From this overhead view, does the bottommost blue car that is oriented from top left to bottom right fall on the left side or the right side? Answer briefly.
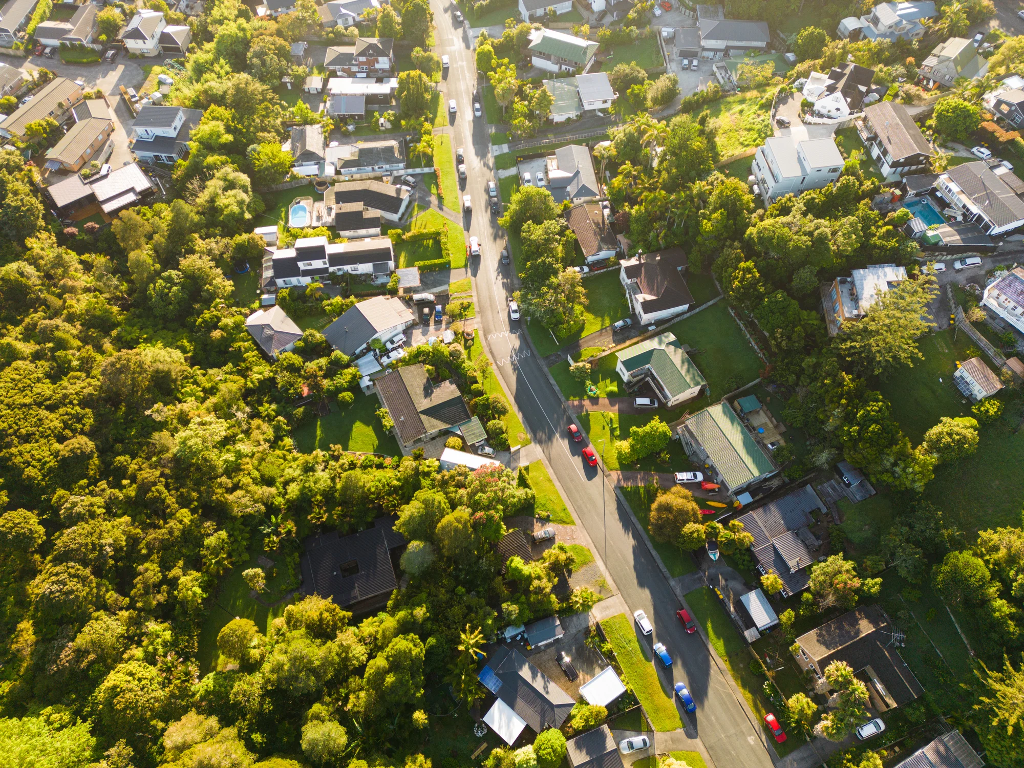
right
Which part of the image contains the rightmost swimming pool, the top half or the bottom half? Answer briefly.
top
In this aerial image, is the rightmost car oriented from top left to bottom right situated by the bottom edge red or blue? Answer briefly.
red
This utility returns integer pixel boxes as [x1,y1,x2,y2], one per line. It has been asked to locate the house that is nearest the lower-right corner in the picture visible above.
[894,729,985,768]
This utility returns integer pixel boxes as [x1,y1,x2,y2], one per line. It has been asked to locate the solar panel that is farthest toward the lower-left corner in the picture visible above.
[478,666,502,694]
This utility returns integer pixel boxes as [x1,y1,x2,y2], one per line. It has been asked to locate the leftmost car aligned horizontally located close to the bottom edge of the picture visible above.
[620,736,649,751]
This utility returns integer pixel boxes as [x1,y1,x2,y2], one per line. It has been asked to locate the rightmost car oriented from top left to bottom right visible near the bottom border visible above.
[763,713,786,742]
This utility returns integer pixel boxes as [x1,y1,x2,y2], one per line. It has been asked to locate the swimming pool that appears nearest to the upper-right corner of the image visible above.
[902,192,948,228]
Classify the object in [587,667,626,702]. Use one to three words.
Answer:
building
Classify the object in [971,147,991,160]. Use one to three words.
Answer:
vehicle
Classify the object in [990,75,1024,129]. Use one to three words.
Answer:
house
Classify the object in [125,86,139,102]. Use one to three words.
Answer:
vehicle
